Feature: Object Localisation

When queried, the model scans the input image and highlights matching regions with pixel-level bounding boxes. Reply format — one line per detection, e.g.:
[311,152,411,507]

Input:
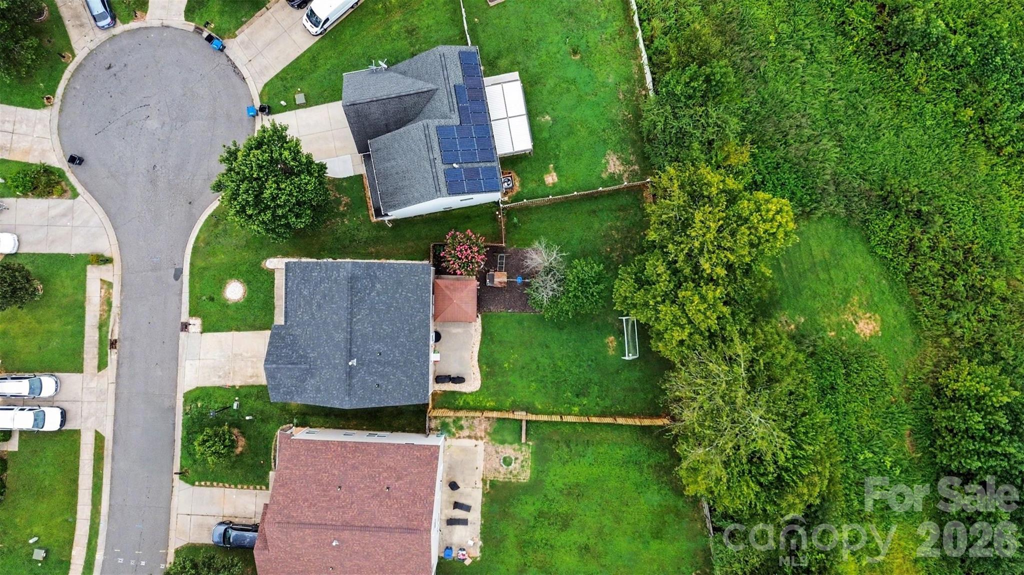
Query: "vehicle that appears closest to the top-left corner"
[88,0,119,30]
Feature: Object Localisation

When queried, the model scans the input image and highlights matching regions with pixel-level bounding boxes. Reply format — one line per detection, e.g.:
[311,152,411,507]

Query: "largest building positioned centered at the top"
[342,46,506,222]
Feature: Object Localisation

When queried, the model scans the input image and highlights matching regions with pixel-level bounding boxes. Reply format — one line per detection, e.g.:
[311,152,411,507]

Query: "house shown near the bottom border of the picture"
[254,423,443,575]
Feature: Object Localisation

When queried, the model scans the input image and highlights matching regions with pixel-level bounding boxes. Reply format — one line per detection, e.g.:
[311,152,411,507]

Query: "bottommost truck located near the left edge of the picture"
[0,406,68,432]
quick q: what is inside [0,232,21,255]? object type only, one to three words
car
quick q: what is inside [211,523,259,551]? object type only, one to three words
car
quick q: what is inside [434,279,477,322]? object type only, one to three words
gazebo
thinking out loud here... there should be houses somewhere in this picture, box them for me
[342,46,506,222]
[254,423,443,575]
[264,261,433,409]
